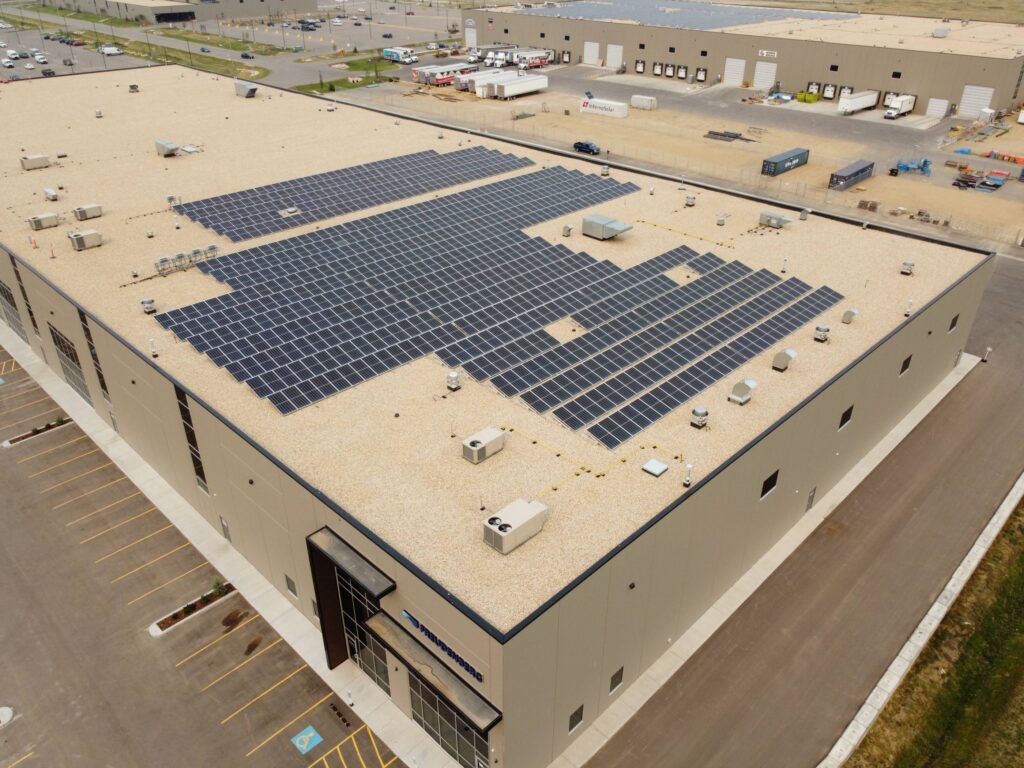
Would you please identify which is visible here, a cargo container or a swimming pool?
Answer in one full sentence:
It is a cargo container that can be seen here.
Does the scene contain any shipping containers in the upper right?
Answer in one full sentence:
Yes, there is a shipping container in the upper right.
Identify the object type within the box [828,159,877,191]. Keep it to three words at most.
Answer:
shipping container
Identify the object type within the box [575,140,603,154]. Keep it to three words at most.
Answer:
vehicle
